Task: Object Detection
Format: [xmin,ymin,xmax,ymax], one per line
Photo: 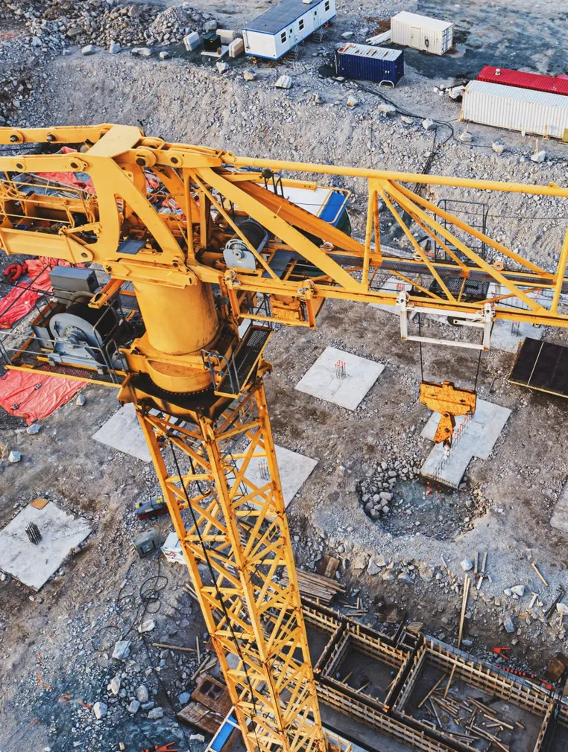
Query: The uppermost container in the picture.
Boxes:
[392,5,456,56]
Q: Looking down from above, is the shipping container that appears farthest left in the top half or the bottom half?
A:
top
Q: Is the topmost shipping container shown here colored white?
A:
Yes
